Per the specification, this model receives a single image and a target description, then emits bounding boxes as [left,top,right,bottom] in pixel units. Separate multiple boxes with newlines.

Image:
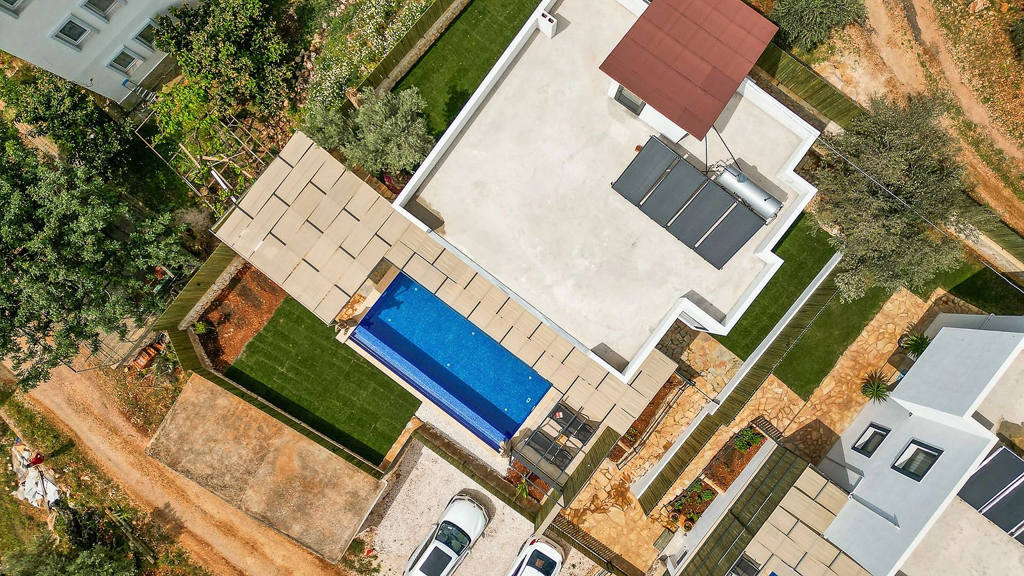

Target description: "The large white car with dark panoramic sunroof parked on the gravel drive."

[402,493,492,576]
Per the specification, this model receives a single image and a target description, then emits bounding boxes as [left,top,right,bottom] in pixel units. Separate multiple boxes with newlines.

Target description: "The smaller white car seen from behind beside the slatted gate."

[507,536,568,576]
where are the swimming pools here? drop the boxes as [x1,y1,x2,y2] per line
[330,265,561,463]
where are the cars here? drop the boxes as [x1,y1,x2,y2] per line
[507,536,568,576]
[402,493,492,576]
